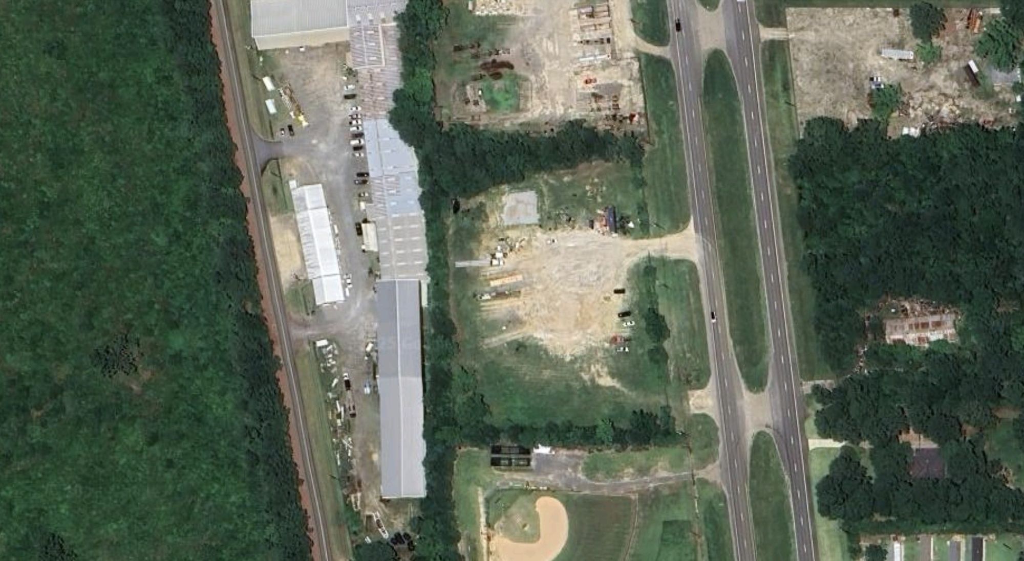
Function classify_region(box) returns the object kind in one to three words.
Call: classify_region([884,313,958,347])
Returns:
barn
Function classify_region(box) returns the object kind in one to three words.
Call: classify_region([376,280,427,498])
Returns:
building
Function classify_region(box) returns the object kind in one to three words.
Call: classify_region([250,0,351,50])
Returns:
building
